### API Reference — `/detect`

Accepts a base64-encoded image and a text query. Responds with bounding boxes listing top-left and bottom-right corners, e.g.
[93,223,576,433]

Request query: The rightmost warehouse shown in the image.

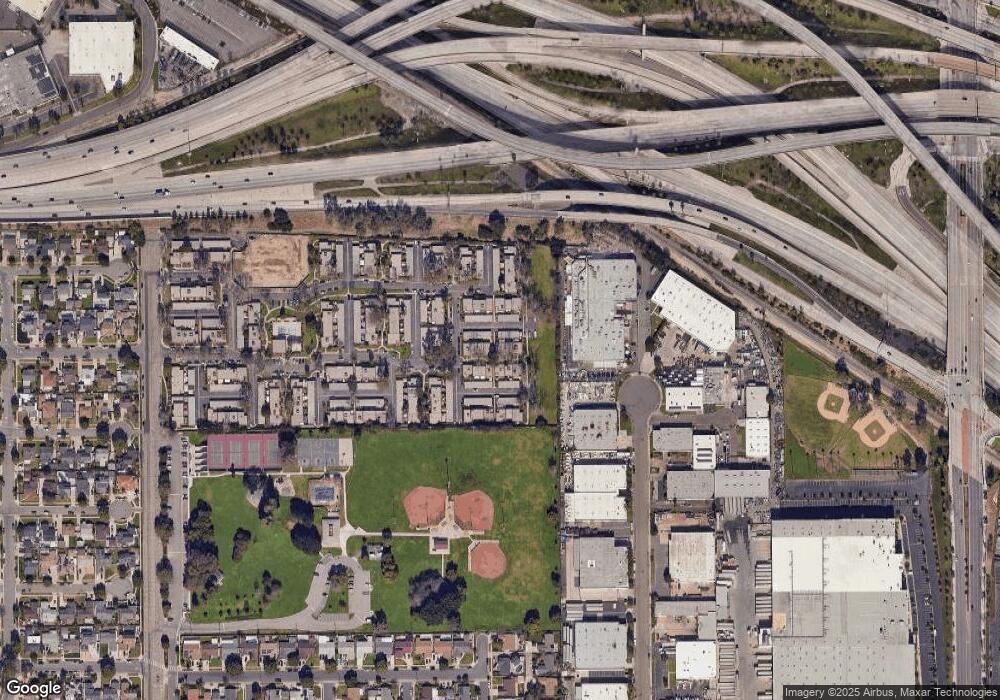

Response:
[772,519,916,700]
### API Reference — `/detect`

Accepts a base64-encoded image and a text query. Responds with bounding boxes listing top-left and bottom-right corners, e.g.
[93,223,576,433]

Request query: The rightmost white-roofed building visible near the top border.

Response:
[160,26,219,70]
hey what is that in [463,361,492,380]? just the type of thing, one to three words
building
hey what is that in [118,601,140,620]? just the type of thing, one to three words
house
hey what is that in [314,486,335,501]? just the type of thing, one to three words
swimming pool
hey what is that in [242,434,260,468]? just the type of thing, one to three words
tennis court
